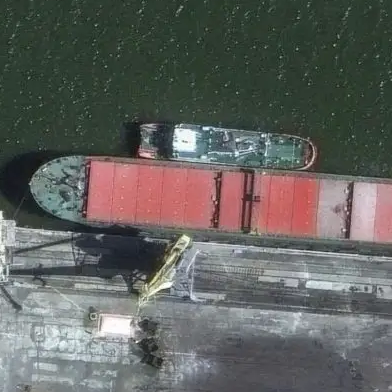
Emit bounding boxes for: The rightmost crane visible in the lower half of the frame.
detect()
[136,237,206,310]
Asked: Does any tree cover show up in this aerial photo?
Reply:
No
